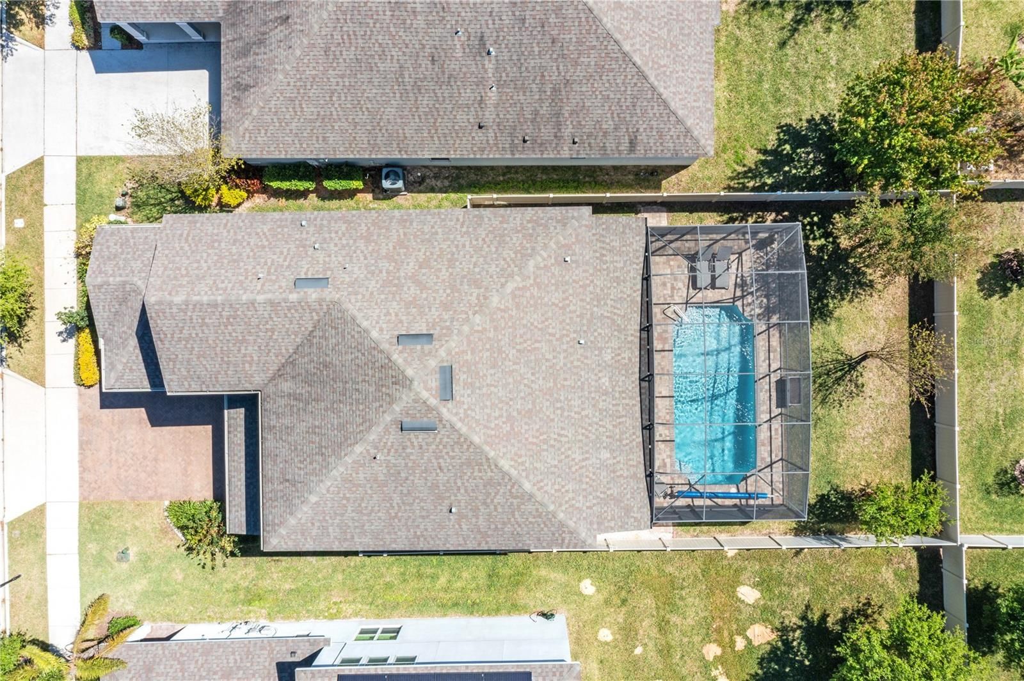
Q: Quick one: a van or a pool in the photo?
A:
pool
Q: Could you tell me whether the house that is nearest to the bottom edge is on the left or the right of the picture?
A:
left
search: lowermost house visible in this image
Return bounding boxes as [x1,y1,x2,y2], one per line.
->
[112,616,582,681]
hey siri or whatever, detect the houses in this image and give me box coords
[112,616,582,681]
[85,205,651,556]
[93,0,718,169]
